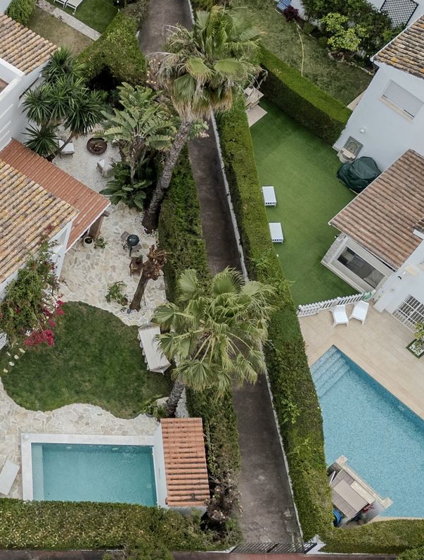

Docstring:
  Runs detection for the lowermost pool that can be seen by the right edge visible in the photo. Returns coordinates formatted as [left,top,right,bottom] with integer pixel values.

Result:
[310,349,424,518]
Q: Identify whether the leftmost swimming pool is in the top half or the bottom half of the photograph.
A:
bottom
